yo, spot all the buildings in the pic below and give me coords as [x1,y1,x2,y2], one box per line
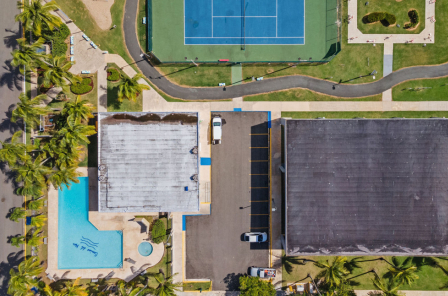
[98,112,199,212]
[278,113,448,255]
